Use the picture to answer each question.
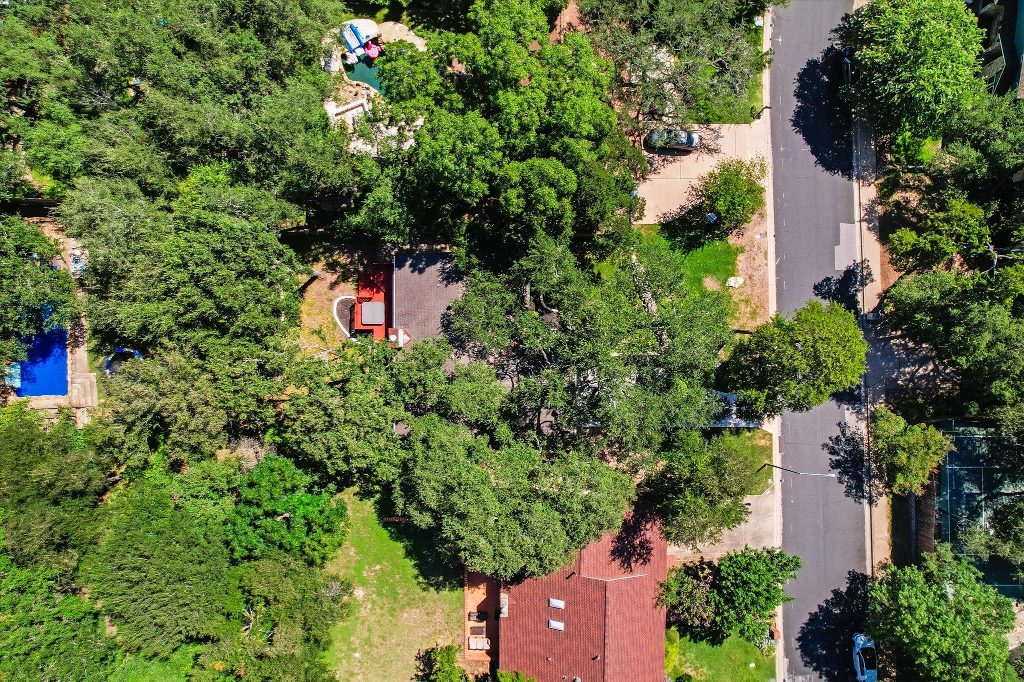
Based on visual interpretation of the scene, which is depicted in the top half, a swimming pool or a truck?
swimming pool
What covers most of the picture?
trees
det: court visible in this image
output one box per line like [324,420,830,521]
[936,421,1024,598]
